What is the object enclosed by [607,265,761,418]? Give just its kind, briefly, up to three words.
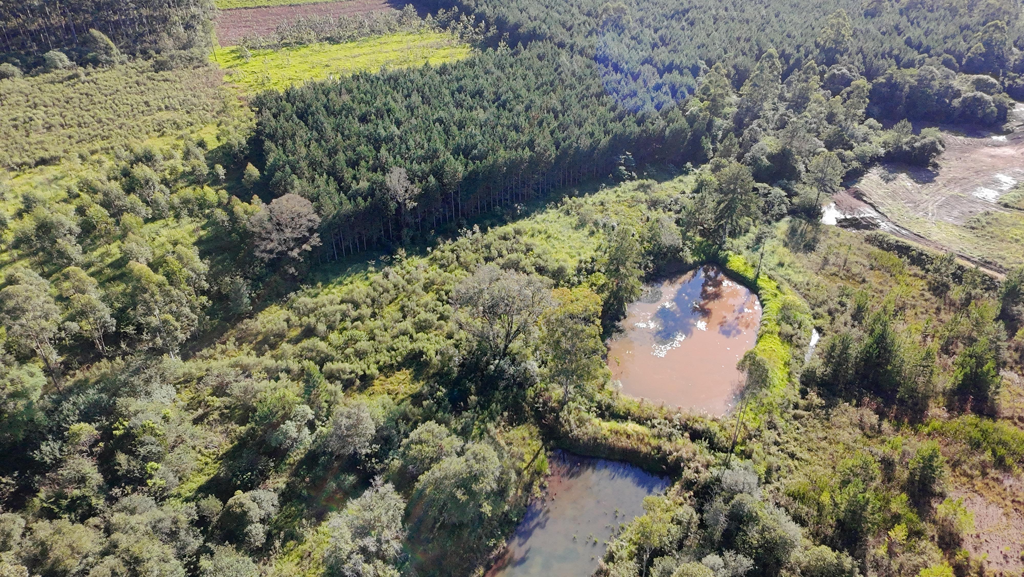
pond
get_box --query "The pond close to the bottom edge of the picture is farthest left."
[486,451,673,577]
